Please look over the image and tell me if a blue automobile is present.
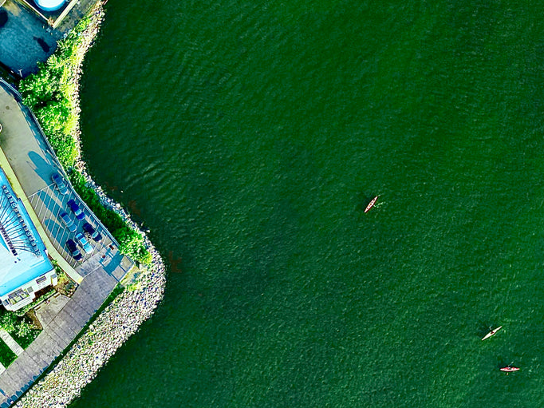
Yes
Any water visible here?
Yes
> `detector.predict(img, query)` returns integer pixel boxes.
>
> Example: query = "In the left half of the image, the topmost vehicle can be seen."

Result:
[52,174,69,197]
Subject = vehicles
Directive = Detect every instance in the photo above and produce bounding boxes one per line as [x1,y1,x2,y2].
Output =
[66,198,86,221]
[52,174,69,197]
[64,238,84,261]
[57,210,78,232]
[75,231,95,254]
